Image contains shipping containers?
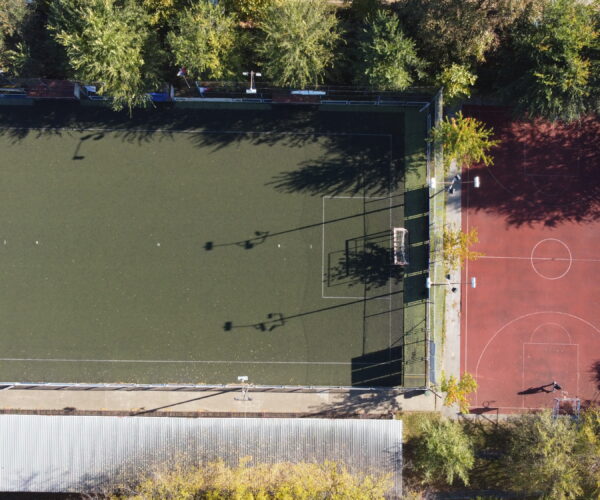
No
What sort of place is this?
sports ground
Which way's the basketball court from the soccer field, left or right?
to the right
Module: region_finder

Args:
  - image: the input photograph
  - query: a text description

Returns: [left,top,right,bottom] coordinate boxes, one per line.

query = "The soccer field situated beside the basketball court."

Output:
[0,103,430,385]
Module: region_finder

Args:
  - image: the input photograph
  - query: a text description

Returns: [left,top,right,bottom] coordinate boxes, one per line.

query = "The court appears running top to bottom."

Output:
[461,106,600,414]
